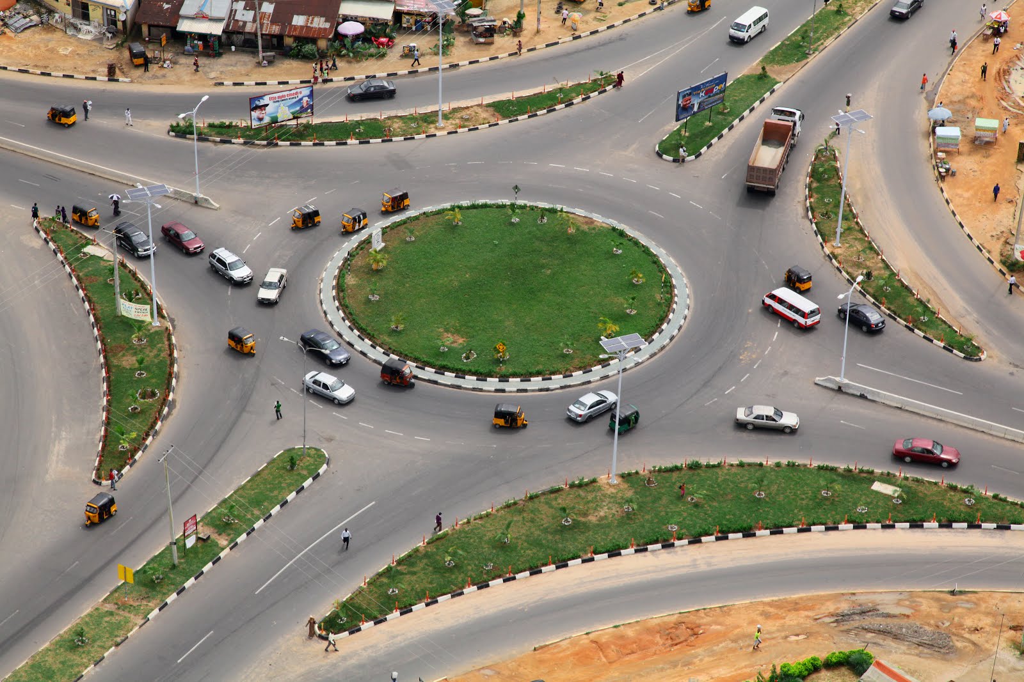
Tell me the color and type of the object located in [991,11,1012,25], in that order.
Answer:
white umbrella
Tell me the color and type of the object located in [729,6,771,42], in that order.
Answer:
white vehicle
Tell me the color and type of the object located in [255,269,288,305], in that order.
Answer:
white car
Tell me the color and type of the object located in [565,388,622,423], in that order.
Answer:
gray car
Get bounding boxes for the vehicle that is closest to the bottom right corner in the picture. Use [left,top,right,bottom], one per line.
[892,437,962,467]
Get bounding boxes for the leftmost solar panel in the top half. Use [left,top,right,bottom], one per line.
[126,184,170,198]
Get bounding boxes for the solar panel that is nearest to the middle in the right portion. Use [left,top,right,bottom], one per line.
[596,337,646,356]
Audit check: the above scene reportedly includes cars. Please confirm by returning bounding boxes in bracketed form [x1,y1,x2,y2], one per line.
[301,370,360,404]
[834,300,889,334]
[892,437,962,467]
[113,219,159,257]
[736,404,803,433]
[255,269,288,305]
[301,328,353,367]
[890,0,925,18]
[162,222,207,254]
[344,78,396,101]
[565,388,622,423]
[208,245,257,285]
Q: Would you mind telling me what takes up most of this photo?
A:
paved ground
